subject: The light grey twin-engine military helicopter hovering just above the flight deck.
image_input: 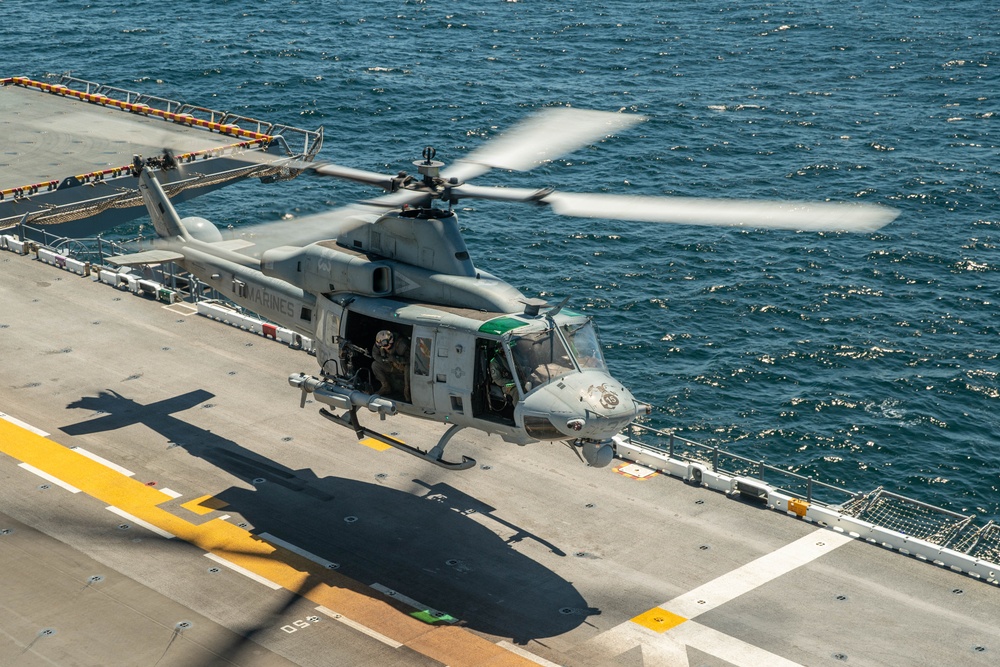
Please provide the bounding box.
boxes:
[42,107,893,473]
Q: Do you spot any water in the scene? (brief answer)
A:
Yes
